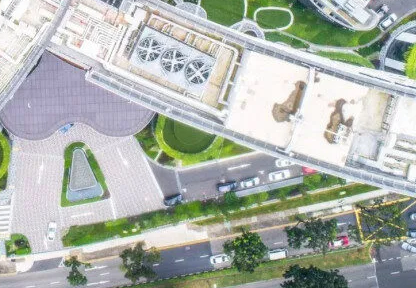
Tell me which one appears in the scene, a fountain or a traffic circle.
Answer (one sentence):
This aerial view contains a fountain.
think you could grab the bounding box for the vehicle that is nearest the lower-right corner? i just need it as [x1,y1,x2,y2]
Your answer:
[401,240,416,254]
